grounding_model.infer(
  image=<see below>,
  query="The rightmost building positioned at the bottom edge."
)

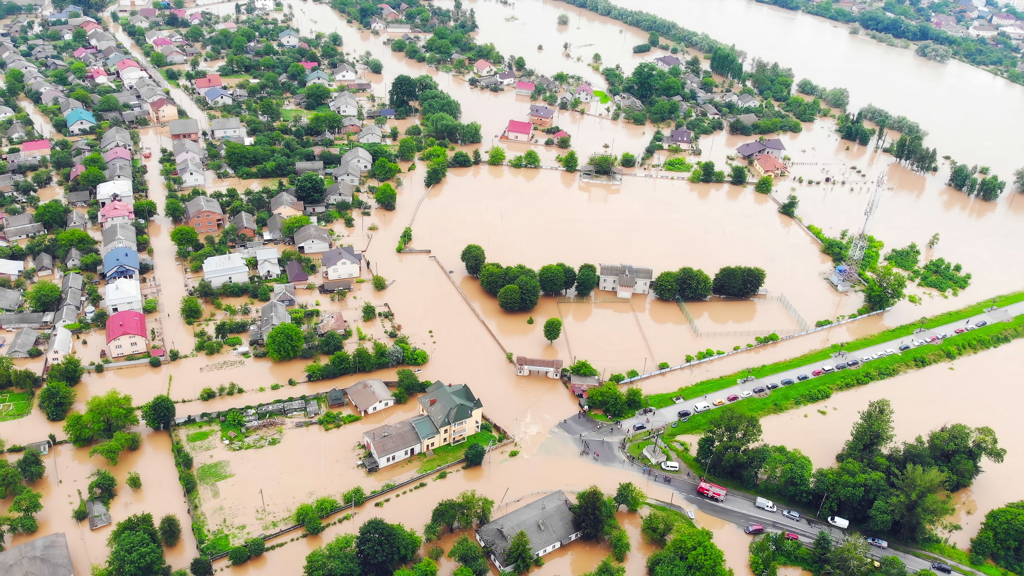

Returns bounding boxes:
[472,495,580,575]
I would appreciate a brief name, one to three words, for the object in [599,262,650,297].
house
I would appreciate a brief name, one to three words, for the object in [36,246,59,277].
shed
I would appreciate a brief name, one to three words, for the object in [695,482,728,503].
truck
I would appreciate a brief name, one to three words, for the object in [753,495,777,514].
vehicle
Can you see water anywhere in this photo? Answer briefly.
Yes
